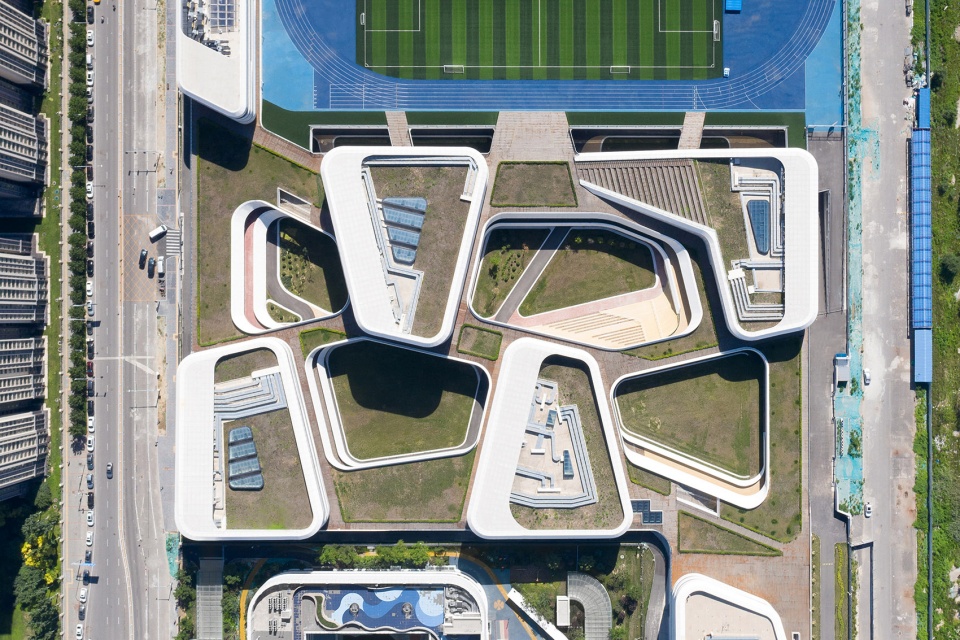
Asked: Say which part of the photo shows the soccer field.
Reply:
top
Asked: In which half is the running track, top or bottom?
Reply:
top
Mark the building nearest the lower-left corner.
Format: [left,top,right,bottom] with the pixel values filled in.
[0,410,50,498]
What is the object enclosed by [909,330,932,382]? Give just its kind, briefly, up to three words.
shed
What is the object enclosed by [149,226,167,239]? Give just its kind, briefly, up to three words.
vehicle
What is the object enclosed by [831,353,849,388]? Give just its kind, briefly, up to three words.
shed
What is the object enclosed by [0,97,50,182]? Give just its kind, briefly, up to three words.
building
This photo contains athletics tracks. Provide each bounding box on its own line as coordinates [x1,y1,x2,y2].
[263,0,844,152]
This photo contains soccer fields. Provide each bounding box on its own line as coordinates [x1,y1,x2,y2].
[356,0,723,81]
